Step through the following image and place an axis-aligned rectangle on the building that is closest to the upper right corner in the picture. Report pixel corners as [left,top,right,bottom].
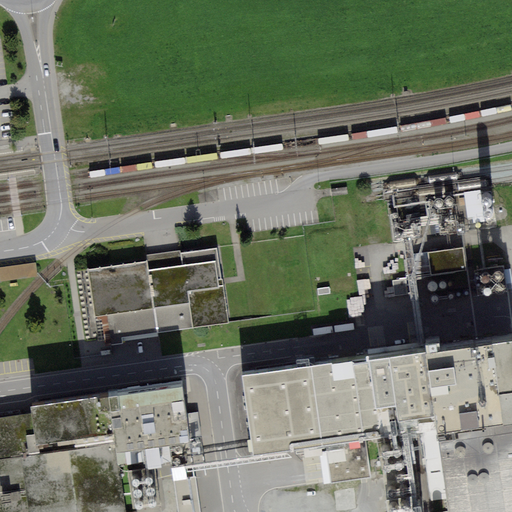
[464,190,484,223]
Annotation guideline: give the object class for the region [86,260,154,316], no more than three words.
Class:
building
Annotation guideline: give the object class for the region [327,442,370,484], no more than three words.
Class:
building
